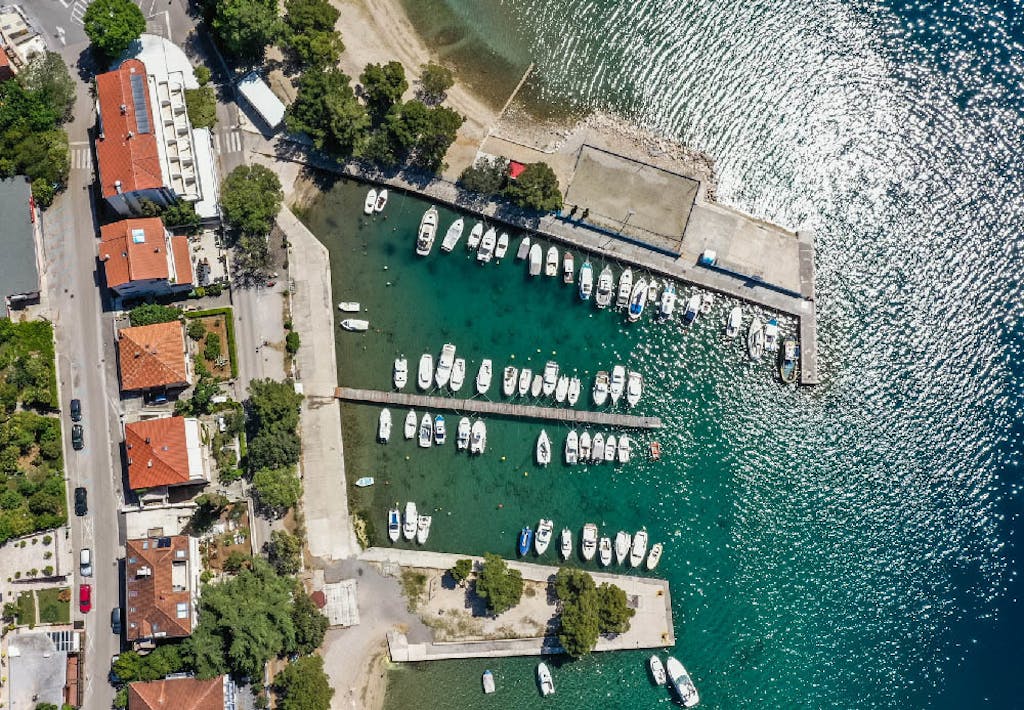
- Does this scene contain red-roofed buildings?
Yes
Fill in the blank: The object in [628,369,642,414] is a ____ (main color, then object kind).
white boat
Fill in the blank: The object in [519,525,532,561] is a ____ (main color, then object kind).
blue boat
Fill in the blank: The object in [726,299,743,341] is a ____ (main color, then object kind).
white boat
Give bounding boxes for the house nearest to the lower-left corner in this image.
[8,619,86,710]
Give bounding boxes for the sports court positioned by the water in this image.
[563,143,701,243]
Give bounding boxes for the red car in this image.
[79,584,94,611]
